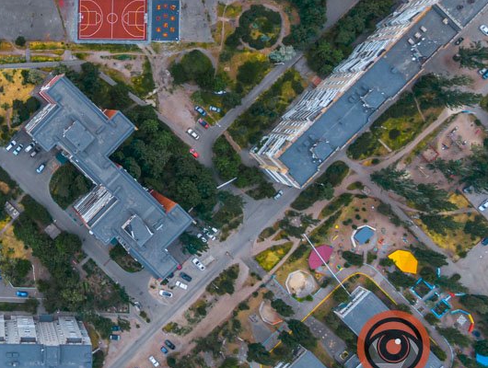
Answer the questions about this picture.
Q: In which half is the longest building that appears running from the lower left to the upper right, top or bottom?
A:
top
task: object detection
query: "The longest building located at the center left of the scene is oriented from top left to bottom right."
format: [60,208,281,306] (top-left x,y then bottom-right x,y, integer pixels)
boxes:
[25,72,194,280]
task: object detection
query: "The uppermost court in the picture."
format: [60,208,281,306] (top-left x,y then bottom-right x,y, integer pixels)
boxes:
[78,0,148,40]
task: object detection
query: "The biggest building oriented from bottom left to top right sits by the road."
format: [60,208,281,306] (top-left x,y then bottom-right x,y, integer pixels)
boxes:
[248,8,462,190]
